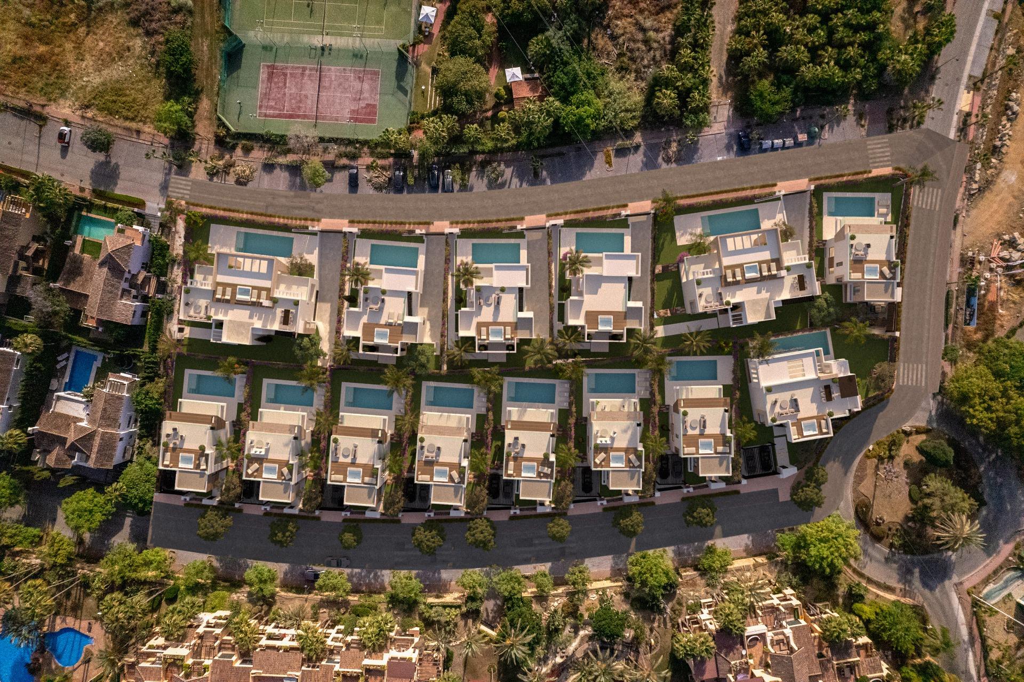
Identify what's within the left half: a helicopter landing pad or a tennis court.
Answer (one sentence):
Looking within the left half, you will find a tennis court.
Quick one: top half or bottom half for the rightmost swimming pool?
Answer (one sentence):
You can find the rightmost swimming pool in the bottom half.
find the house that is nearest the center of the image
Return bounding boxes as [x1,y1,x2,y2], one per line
[458,265,535,355]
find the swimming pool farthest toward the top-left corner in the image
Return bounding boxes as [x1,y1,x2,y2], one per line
[70,214,119,257]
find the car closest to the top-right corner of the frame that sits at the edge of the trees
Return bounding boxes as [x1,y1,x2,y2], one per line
[737,128,751,152]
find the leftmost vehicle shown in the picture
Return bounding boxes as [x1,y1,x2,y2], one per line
[58,126,71,147]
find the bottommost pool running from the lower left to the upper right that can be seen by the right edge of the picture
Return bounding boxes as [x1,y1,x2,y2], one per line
[981,567,1024,606]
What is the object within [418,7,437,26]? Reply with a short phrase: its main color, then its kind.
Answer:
white umbrella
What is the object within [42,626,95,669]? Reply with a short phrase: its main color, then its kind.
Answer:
blue swimming pool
